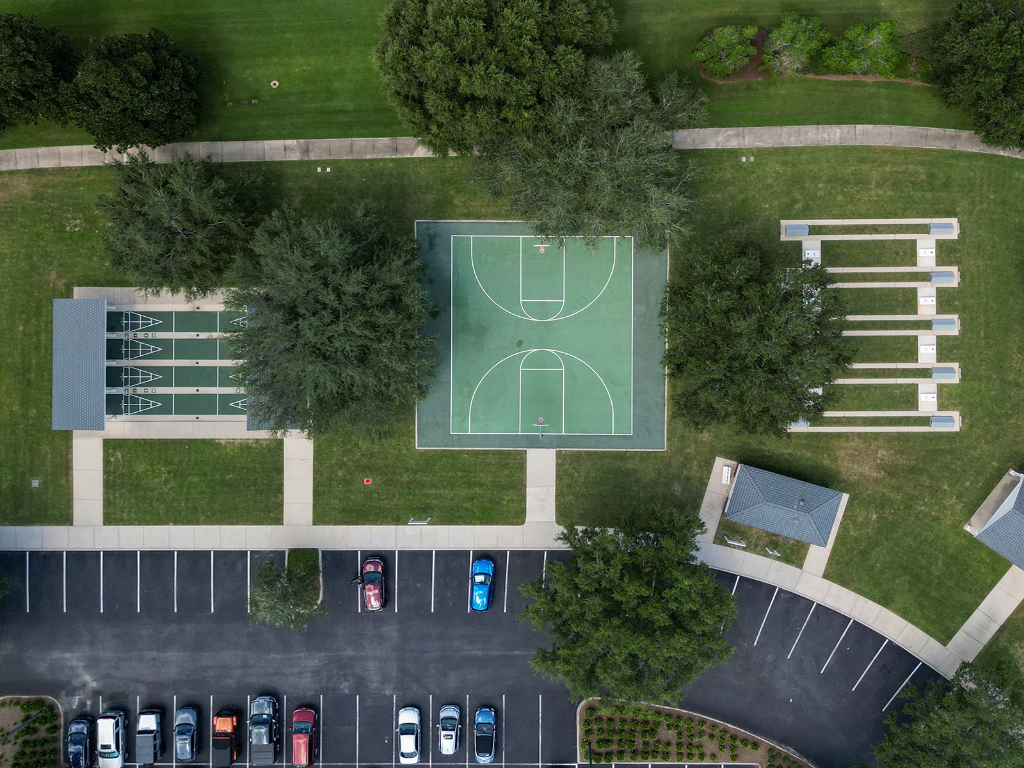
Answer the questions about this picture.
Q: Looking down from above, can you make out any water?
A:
No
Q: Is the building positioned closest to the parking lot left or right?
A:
right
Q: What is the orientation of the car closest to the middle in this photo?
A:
vertically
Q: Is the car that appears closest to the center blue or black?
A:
blue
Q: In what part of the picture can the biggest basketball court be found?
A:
center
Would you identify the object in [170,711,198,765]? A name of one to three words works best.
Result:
car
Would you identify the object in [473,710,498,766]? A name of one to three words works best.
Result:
car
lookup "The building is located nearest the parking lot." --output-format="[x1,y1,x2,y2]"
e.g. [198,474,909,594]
[723,463,844,548]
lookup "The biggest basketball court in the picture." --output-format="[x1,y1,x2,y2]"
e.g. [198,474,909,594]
[415,221,668,450]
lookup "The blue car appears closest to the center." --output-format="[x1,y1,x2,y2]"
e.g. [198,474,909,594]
[470,561,495,613]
